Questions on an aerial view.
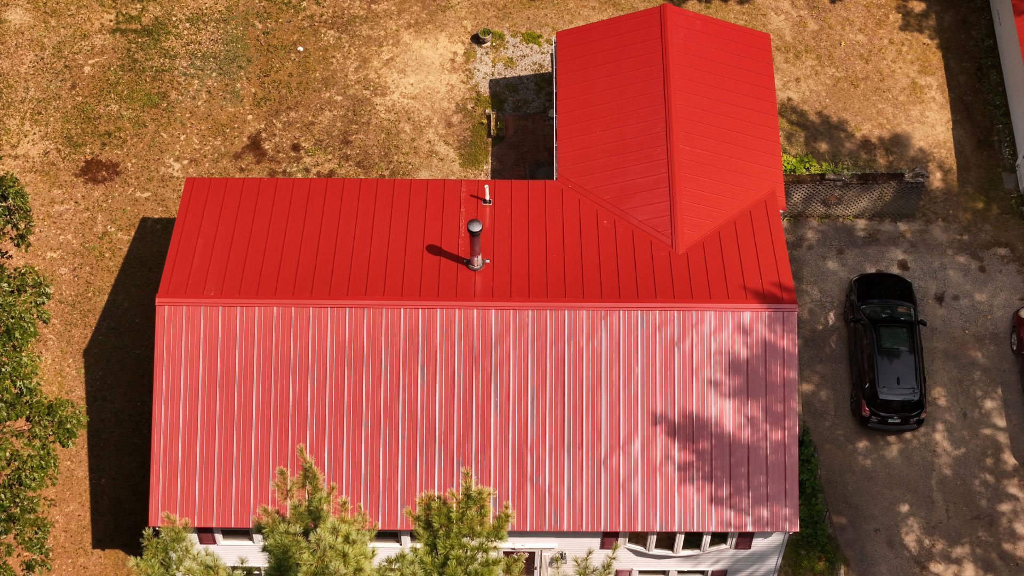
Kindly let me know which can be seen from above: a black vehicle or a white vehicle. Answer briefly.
black vehicle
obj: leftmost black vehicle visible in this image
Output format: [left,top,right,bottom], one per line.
[844,272,928,434]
